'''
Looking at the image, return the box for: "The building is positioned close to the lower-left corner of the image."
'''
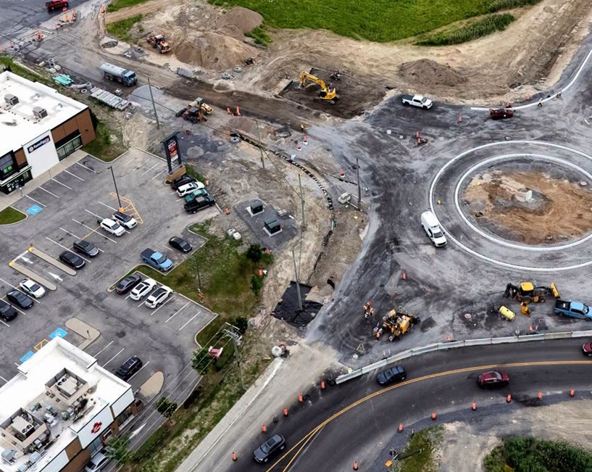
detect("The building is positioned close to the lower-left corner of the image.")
[0,337,143,472]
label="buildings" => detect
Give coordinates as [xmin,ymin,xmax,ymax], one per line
[0,70,96,195]
[0,337,143,472]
